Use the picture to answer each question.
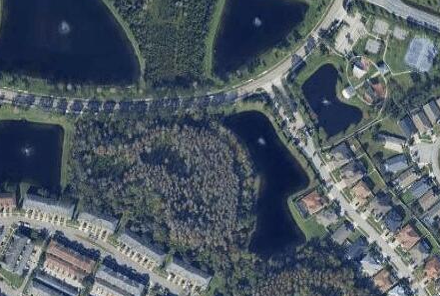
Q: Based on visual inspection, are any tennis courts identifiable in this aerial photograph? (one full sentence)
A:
Yes, the picture does show a tennis court.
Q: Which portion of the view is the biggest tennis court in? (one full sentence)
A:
The biggest tennis court is located in the top right region of the scene.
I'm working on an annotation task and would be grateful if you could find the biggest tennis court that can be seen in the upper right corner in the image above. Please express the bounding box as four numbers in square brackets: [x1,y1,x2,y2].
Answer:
[405,36,439,70]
